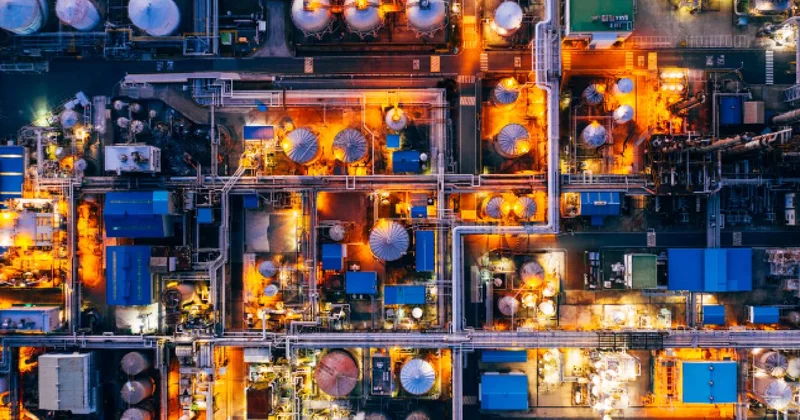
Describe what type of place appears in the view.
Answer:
industrial area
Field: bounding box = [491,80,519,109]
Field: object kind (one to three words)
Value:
storage tank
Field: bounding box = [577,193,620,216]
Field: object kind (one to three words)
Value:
building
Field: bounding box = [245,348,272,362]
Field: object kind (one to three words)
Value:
building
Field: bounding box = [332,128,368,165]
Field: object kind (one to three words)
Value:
storage tank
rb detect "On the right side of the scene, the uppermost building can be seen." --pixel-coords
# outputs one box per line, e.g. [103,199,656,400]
[560,0,634,37]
